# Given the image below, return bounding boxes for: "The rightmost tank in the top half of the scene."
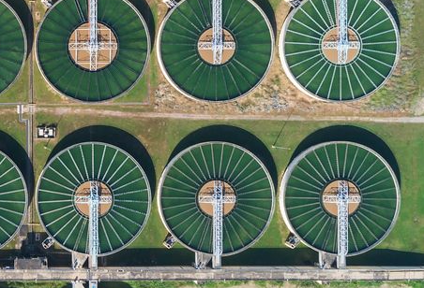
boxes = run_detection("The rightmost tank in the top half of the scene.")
[279,0,399,102]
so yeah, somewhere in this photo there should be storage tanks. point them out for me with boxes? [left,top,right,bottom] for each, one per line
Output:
[157,140,275,268]
[279,140,399,267]
[35,0,151,103]
[0,0,28,95]
[0,150,28,248]
[157,0,275,102]
[35,142,151,268]
[279,0,399,102]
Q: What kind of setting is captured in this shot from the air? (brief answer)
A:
industrial area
